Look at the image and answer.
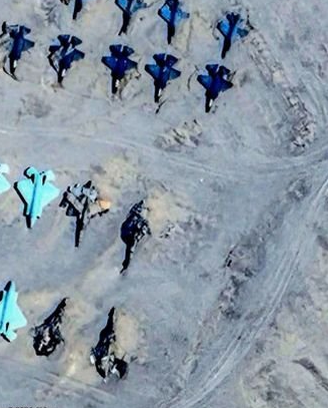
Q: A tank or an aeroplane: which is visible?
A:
aeroplane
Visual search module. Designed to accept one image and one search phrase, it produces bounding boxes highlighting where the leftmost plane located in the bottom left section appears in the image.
[0,281,26,342]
